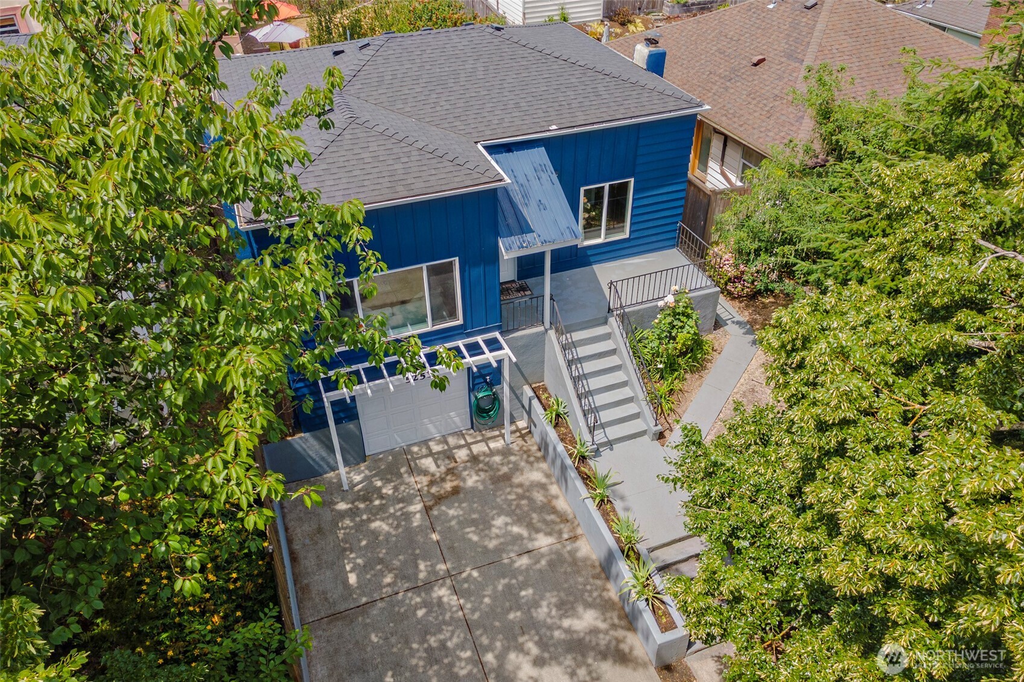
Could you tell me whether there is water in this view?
No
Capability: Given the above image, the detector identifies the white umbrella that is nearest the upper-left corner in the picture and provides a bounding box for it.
[247,21,314,52]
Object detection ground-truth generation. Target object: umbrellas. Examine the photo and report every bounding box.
[240,0,300,28]
[247,21,314,52]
